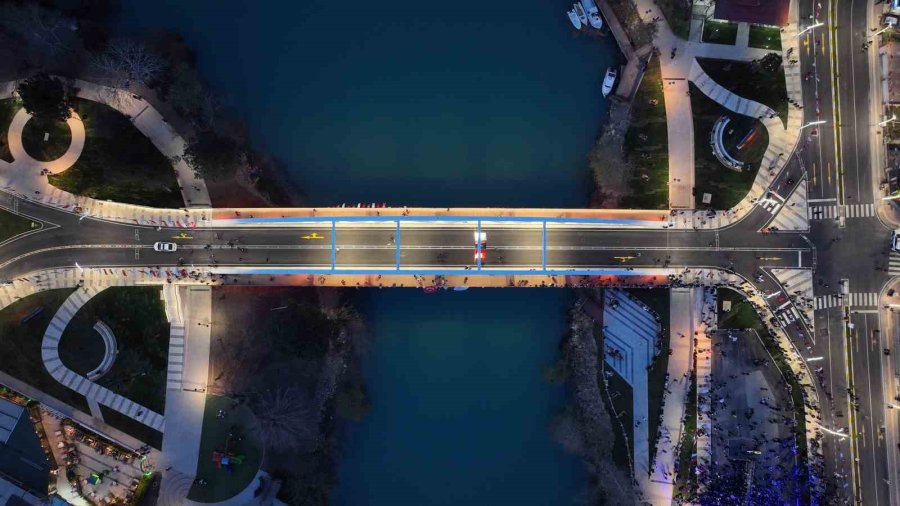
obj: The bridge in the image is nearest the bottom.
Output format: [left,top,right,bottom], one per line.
[211,207,670,288]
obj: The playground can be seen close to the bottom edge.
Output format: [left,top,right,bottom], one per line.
[185,394,265,503]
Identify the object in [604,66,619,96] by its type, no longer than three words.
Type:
boat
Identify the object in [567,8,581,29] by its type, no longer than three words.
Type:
boat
